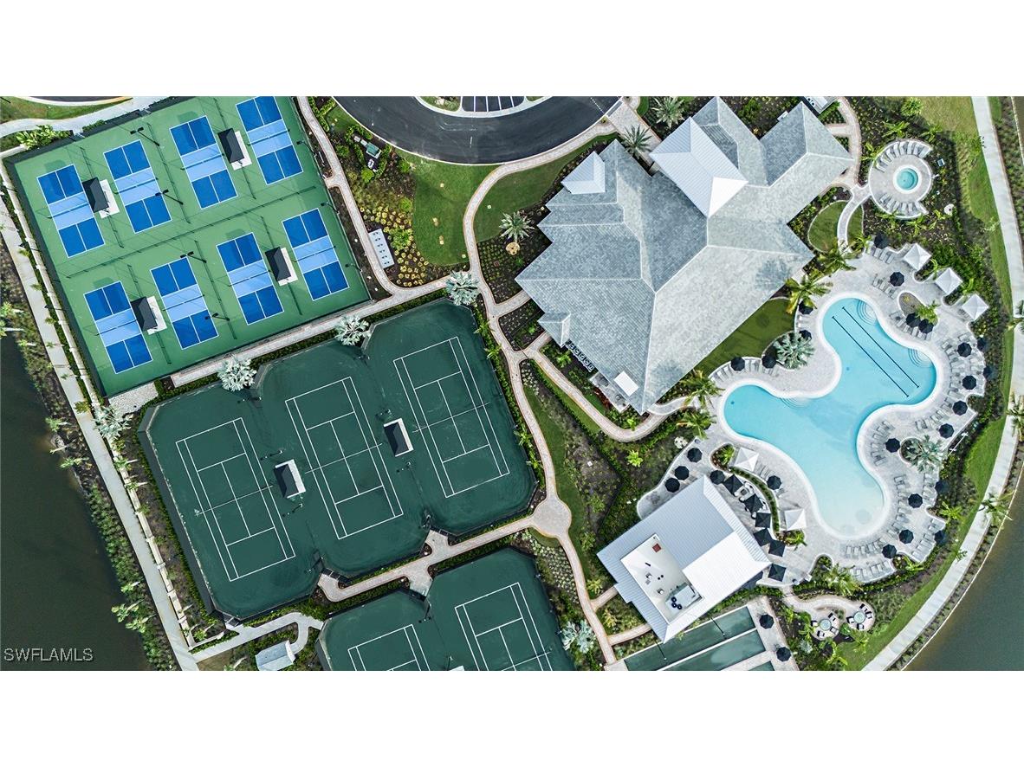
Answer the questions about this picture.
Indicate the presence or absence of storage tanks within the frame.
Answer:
No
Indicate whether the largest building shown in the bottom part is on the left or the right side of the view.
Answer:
right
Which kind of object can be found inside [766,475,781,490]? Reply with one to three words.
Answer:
umbrella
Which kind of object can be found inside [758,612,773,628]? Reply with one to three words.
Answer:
umbrella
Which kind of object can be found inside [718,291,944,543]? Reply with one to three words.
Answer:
swimming pool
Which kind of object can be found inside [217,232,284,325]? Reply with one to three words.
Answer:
sports court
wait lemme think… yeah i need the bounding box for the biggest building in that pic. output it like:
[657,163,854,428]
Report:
[515,96,855,415]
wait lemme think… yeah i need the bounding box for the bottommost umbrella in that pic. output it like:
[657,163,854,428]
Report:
[775,645,791,661]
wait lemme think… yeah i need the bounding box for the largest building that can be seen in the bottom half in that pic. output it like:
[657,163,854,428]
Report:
[597,475,772,643]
